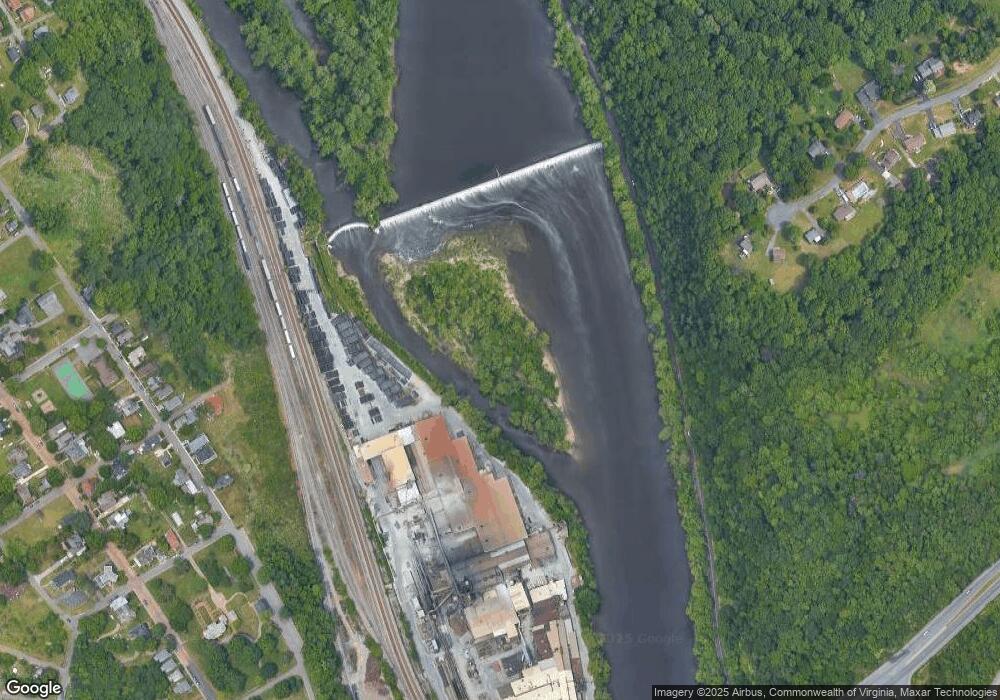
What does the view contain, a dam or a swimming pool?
dam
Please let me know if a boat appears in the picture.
No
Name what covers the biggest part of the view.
trees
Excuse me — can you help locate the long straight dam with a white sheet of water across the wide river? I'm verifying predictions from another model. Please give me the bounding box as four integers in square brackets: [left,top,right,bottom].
[379,143,603,229]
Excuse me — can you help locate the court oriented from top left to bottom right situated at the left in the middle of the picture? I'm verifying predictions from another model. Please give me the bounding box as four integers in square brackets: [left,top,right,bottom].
[52,357,95,402]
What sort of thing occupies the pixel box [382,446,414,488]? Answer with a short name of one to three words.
building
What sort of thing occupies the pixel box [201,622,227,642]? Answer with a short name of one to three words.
house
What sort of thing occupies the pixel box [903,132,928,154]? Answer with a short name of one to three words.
house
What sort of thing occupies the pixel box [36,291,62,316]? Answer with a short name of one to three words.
building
